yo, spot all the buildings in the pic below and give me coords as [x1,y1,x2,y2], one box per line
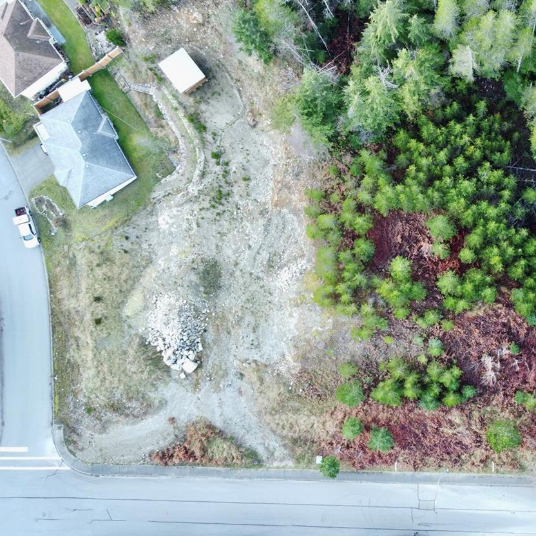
[159,47,212,97]
[0,0,73,100]
[33,91,140,209]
